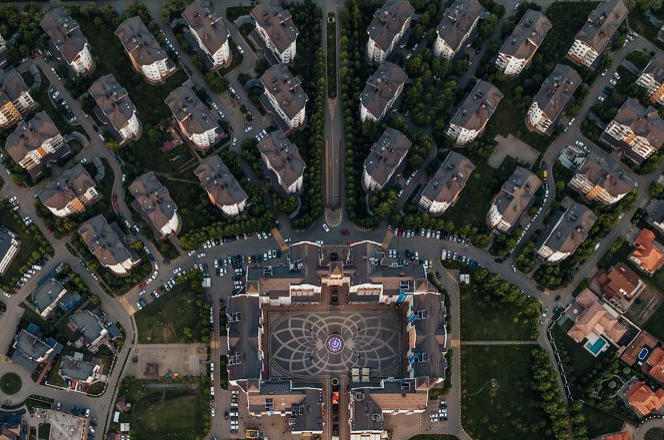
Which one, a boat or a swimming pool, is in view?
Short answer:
swimming pool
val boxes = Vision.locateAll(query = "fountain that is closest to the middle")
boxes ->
[325,335,344,353]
